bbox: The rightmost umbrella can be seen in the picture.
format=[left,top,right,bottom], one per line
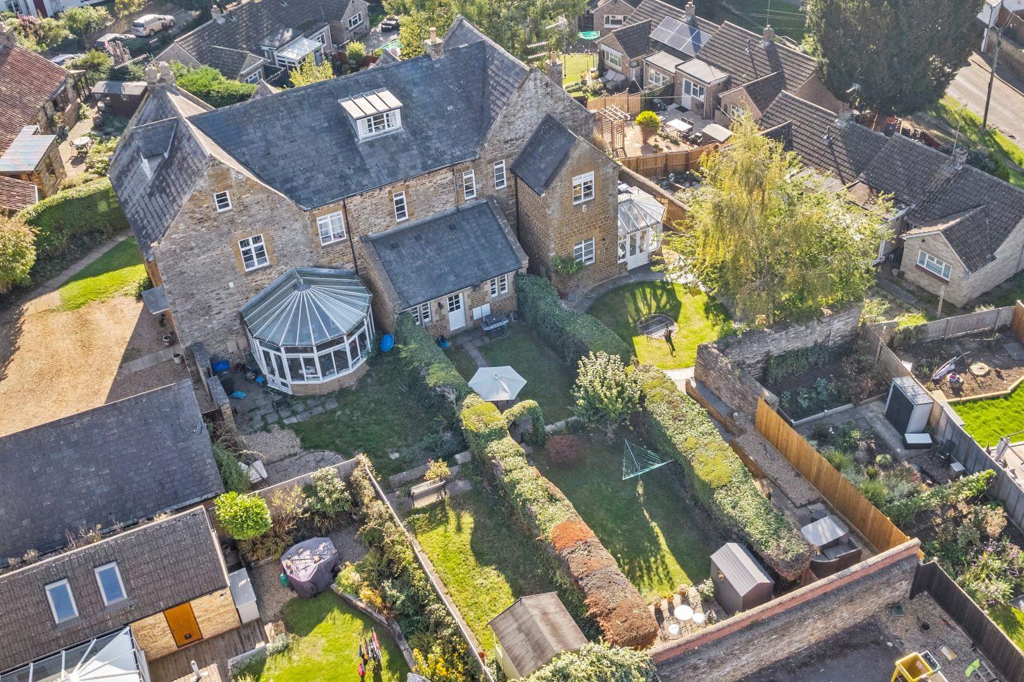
[939,356,958,386]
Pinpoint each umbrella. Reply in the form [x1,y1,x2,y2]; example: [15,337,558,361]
[466,366,529,406]
[939,356,958,386]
